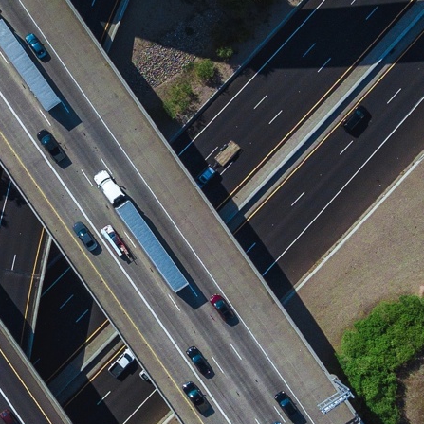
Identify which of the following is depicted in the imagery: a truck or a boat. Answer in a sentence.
There is a truck in the scene.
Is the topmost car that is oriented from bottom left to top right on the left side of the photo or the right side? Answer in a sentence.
The topmost car that is oriented from bottom left to top right is on the right side of the image.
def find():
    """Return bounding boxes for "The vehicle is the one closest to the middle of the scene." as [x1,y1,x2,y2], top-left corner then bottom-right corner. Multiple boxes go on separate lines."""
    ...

[194,162,220,191]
